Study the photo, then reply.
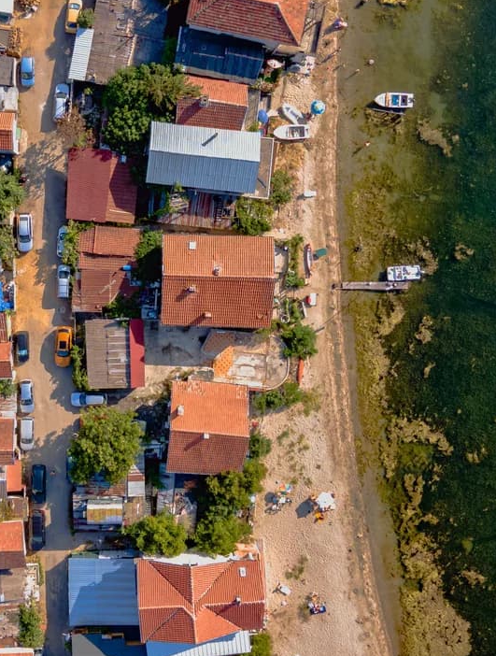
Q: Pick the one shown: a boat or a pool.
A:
boat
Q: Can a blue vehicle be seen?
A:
Yes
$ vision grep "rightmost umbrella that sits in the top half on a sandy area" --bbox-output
[308,100,324,116]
